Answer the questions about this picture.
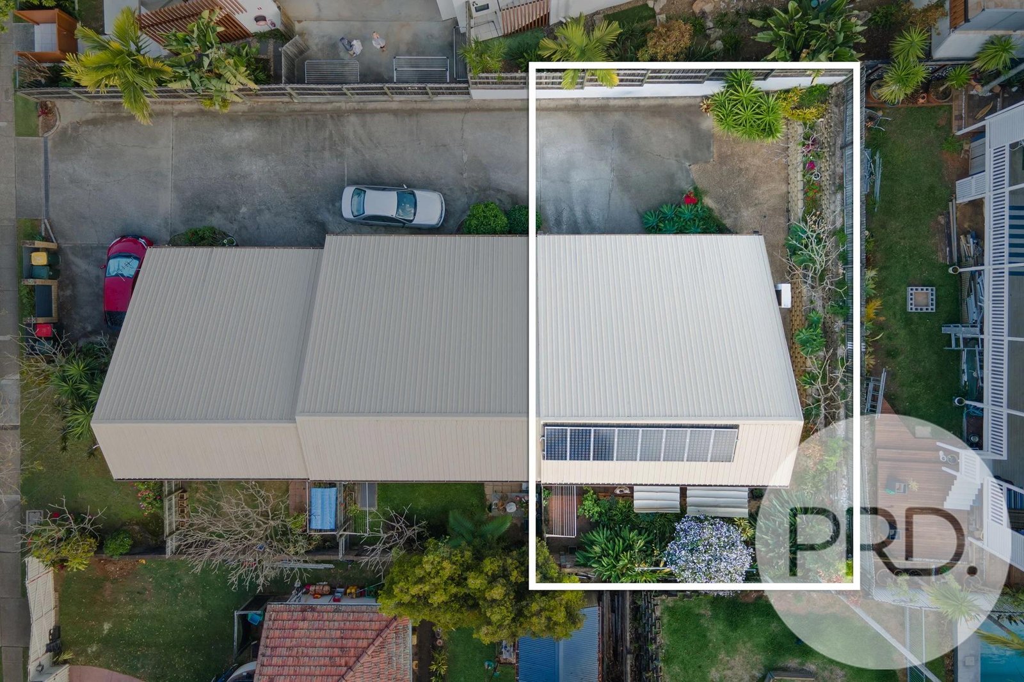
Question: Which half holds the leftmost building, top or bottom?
top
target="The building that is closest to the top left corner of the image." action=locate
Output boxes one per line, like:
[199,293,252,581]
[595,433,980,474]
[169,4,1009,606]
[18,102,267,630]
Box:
[12,5,77,63]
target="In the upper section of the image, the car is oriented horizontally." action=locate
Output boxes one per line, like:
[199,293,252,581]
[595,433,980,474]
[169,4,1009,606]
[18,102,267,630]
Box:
[344,185,444,228]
